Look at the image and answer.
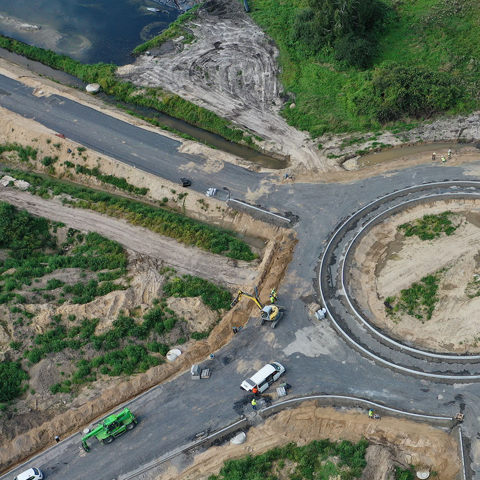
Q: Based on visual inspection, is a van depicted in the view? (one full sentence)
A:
Yes, the picture does show a van.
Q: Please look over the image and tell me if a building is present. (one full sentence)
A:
No, the photo shows no building.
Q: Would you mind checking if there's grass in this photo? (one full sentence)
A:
Yes, grass shows up in the scene.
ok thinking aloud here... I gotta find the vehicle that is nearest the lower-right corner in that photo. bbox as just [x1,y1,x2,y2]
[242,363,286,392]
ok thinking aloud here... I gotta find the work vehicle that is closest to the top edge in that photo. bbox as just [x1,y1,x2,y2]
[238,288,283,329]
